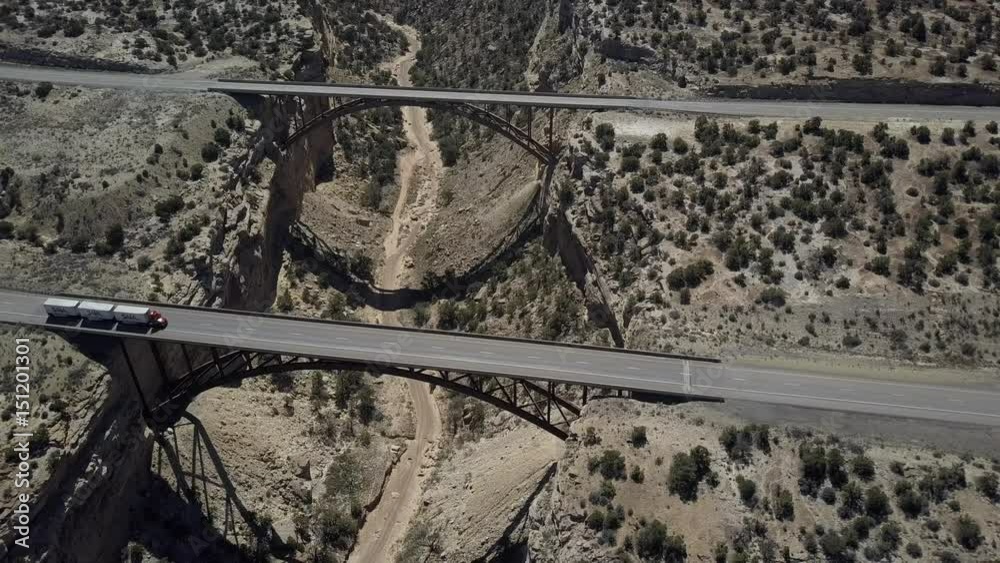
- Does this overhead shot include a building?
No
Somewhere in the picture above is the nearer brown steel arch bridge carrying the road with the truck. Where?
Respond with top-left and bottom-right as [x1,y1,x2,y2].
[0,286,724,435]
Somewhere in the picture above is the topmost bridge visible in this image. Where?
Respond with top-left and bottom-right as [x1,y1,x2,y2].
[204,80,713,172]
